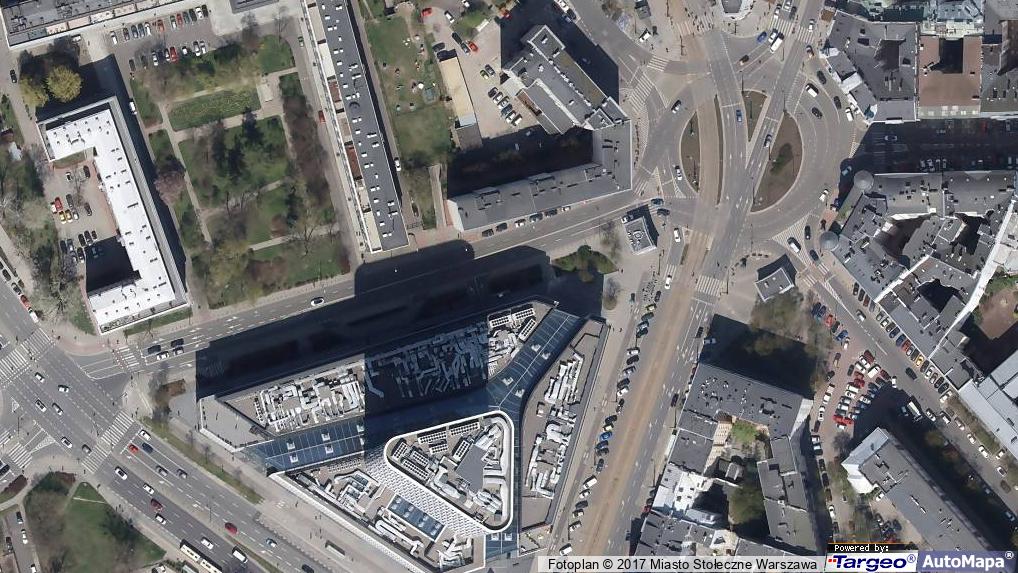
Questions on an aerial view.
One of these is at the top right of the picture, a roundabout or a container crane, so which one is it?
roundabout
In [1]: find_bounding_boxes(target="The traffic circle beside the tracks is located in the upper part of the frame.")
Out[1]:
[632,38,862,256]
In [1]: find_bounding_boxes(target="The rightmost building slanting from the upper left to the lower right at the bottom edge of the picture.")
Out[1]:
[833,428,1018,573]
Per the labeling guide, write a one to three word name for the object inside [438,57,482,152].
shed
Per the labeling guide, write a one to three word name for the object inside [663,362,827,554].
building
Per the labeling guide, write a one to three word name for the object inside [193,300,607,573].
building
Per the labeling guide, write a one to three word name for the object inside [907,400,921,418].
vehicle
